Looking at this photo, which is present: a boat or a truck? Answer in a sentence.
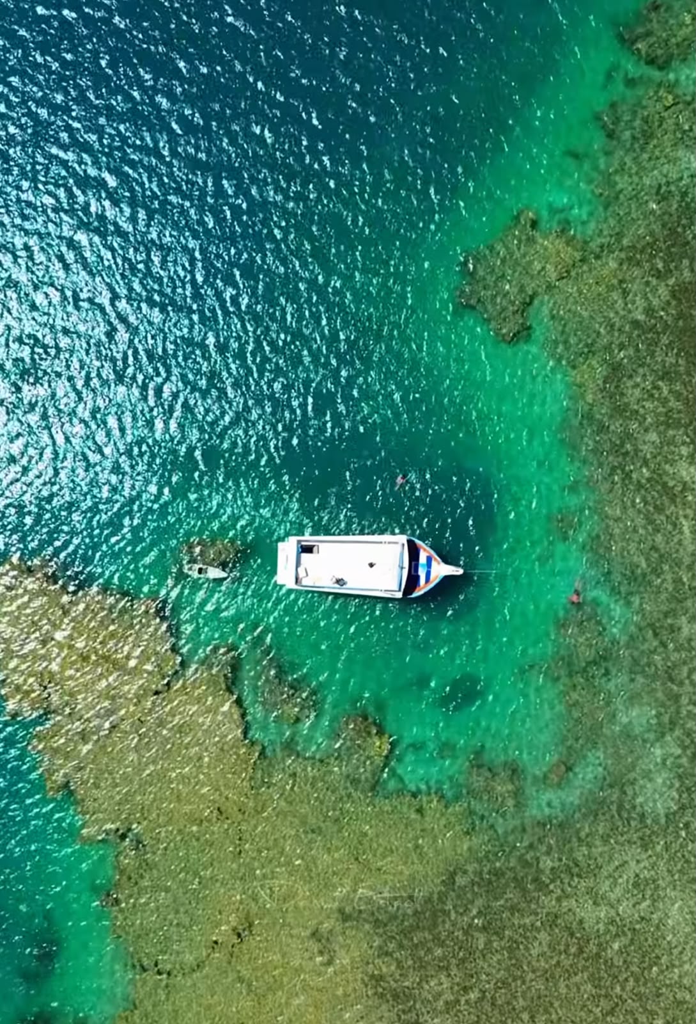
The image shows a boat.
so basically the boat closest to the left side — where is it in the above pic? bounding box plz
[183,564,229,579]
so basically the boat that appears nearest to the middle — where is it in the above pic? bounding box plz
[277,535,464,598]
